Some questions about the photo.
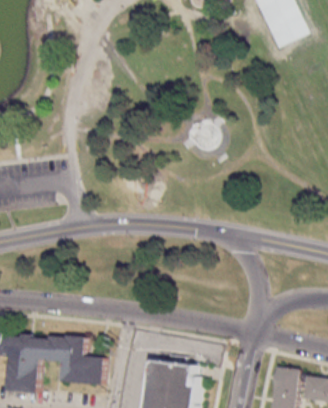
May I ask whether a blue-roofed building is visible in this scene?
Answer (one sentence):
No, there appears to be no blue-roofed building in this shot.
